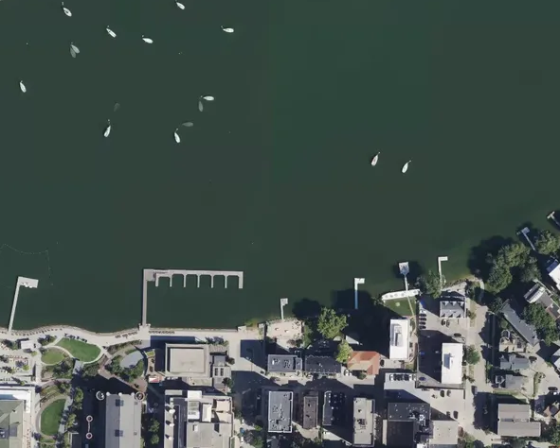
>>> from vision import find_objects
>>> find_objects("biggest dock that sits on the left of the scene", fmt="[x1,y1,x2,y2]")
[140,269,243,330]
